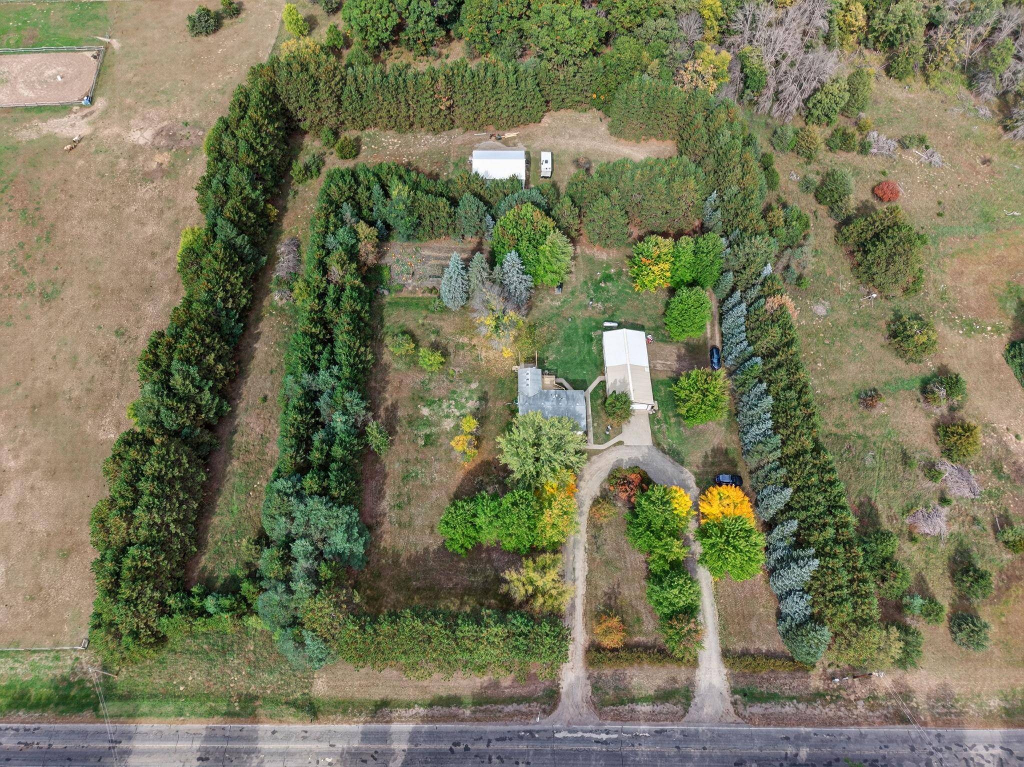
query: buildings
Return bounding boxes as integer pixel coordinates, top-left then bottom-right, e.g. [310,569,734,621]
[472,150,525,190]
[602,328,655,410]
[518,366,587,440]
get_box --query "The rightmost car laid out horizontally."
[714,475,743,489]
